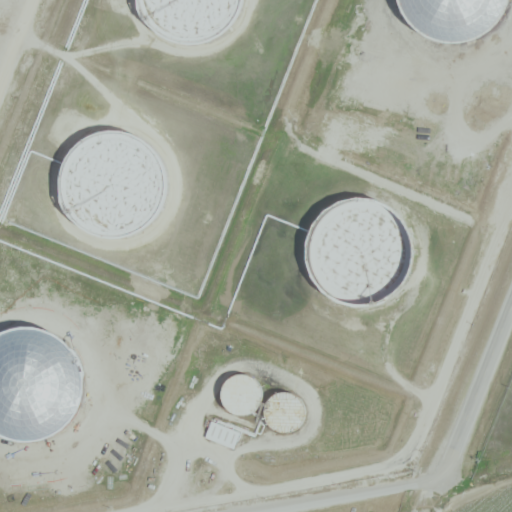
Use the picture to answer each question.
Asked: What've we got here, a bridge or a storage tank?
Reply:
storage tank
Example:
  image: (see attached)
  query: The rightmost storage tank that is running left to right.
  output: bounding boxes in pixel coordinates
[396,0,508,46]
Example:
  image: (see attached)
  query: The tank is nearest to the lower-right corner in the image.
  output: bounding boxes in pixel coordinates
[263,390,308,434]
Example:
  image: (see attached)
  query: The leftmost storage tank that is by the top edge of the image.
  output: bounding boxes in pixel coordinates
[136,0,244,46]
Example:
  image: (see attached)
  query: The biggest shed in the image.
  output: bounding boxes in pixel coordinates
[205,422,241,450]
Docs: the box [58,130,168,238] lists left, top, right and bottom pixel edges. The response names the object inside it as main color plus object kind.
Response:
white storage tank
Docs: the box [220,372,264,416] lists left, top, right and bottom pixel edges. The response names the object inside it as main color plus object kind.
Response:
white storage tank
